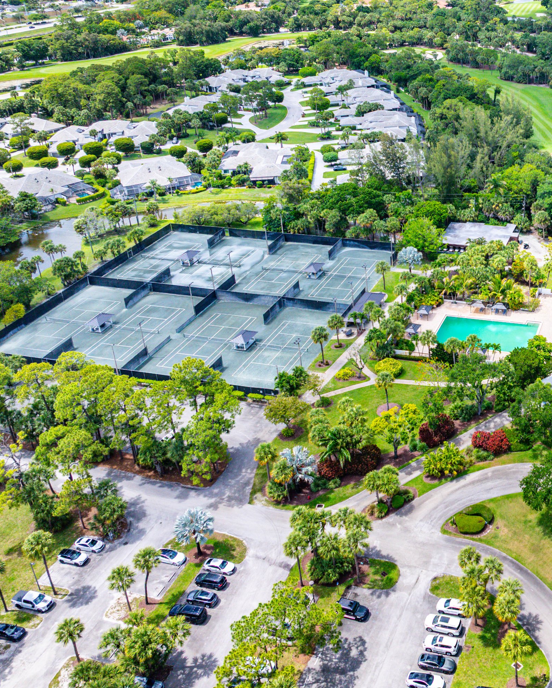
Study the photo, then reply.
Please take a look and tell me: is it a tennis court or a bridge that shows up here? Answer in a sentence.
Visible in the photo is a tennis court.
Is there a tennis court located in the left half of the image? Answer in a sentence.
Yes, a tennis court shows up in the left half of the image.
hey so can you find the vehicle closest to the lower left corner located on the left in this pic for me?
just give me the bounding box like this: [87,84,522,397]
[0,623,27,642]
